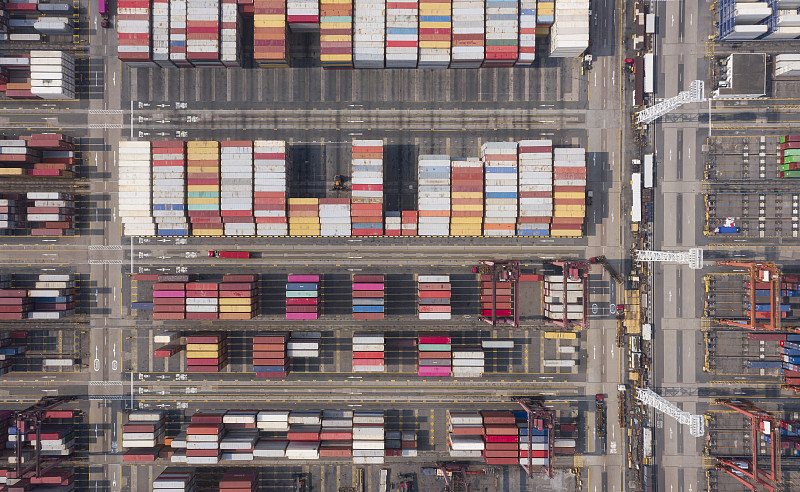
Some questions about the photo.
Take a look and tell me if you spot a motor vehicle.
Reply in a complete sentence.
Yes, there's a motor vehicle down there.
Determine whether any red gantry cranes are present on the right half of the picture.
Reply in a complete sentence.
Yes, a red gantry crane appears on the right half of the picture.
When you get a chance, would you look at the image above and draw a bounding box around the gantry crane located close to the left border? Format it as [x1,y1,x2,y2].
[16,398,77,487]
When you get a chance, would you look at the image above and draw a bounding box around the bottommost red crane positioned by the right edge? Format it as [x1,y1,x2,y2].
[718,467,781,492]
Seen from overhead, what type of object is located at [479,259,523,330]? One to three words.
container crane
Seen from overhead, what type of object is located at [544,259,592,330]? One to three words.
container crane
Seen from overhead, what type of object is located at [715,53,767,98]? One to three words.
building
